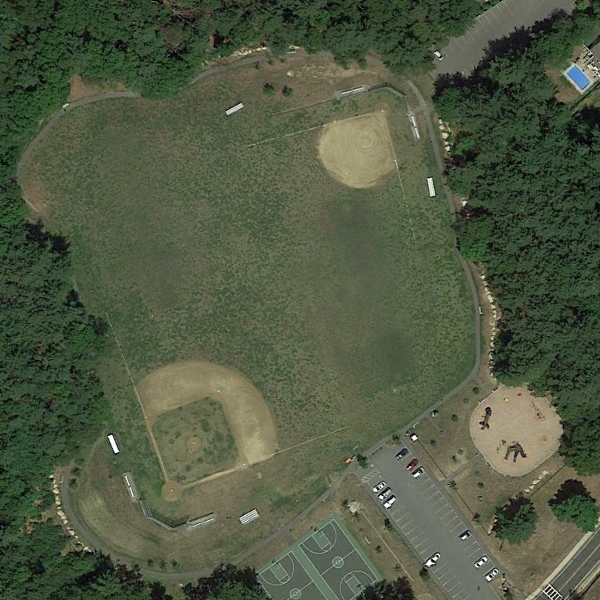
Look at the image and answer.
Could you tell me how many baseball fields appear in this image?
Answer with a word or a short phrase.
2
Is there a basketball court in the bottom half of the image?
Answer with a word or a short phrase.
Yes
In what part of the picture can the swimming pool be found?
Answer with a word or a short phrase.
top right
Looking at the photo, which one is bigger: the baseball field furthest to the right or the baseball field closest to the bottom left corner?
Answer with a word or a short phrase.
the baseball field closest to the bottom left corner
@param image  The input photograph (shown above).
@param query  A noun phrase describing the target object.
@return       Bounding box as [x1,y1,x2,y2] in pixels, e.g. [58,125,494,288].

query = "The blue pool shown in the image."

[562,62,594,93]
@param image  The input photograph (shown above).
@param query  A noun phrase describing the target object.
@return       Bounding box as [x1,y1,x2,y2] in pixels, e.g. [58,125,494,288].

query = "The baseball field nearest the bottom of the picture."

[107,314,344,502]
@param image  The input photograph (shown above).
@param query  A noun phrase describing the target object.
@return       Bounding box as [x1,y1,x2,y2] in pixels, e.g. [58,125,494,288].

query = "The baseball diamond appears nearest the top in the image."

[245,107,414,238]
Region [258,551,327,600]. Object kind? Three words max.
basketball court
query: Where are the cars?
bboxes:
[373,482,386,492]
[425,553,441,565]
[486,570,499,580]
[432,50,445,61]
[405,460,418,471]
[459,531,471,541]
[396,449,408,460]
[412,468,425,479]
[379,489,391,500]
[384,496,397,507]
[475,557,488,568]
